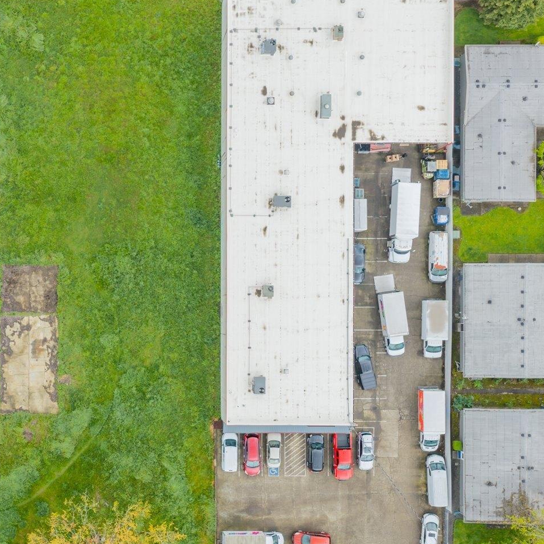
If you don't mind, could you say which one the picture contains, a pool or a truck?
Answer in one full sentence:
I can see a truck in this picture.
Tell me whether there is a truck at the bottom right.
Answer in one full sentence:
Yes, at the bottom right there is a truck.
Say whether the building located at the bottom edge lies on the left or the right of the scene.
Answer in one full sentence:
You can find the building located at the bottom edge on the right side of the picture.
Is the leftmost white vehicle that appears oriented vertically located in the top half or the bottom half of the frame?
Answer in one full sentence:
The bottom half of the photo is where the leftmost white vehicle that appears oriented vertically is.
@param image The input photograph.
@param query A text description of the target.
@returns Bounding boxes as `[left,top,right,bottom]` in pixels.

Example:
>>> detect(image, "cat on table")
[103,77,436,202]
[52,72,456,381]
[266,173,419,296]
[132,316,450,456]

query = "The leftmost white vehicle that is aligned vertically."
[220,432,241,474]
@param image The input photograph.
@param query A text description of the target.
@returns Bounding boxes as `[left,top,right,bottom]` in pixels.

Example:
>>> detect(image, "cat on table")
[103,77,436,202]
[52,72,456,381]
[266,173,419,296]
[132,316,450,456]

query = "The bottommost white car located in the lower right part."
[418,511,441,544]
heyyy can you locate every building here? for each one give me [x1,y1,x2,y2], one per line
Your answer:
[461,263,544,378]
[461,45,544,202]
[461,409,544,524]
[221,0,455,433]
